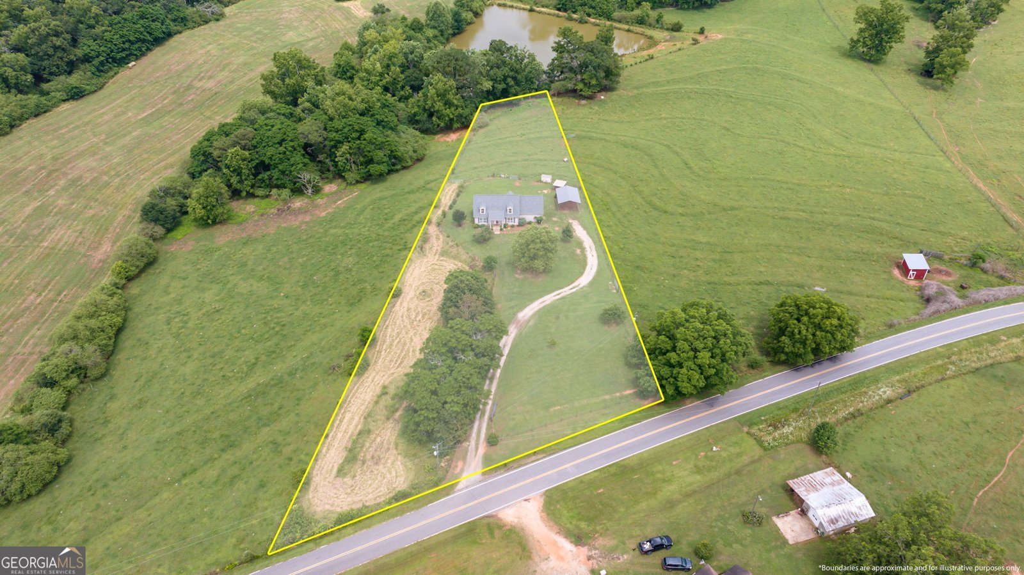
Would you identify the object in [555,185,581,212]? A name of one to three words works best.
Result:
building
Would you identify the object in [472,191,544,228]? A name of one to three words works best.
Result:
house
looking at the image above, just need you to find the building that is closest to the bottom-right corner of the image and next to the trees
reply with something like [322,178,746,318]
[788,466,870,535]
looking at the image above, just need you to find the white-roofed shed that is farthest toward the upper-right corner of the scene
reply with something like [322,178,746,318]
[902,259,929,280]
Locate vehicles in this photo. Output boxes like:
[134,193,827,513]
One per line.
[637,536,673,555]
[662,558,692,573]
